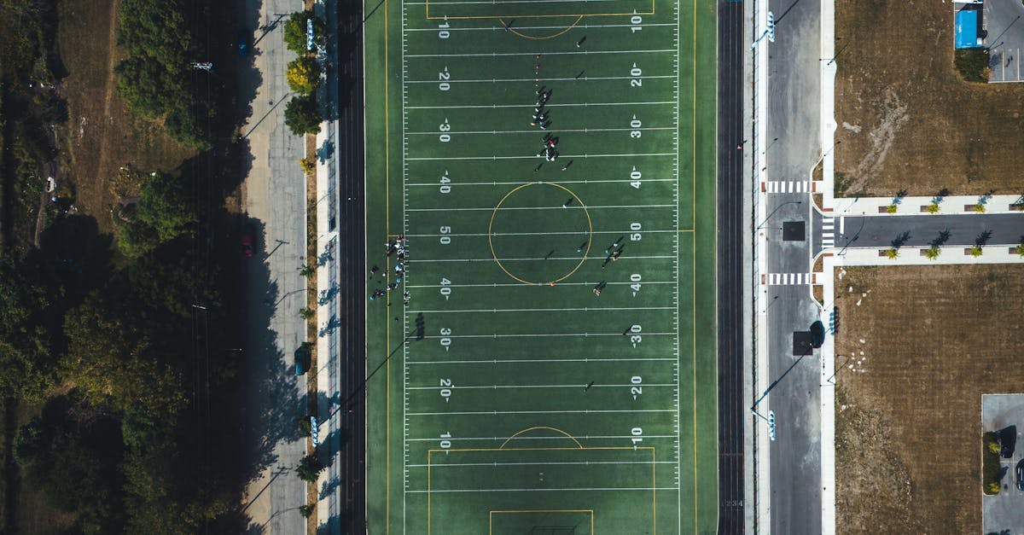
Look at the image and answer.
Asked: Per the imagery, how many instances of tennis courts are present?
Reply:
0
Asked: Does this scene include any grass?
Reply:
Yes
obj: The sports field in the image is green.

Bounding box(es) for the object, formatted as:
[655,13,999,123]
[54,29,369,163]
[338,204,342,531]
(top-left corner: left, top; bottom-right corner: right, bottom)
[364,0,717,535]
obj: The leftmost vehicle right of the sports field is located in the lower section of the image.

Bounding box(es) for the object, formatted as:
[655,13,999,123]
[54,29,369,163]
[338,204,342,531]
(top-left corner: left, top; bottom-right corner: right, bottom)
[810,327,823,351]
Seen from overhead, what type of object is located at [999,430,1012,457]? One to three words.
vehicle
